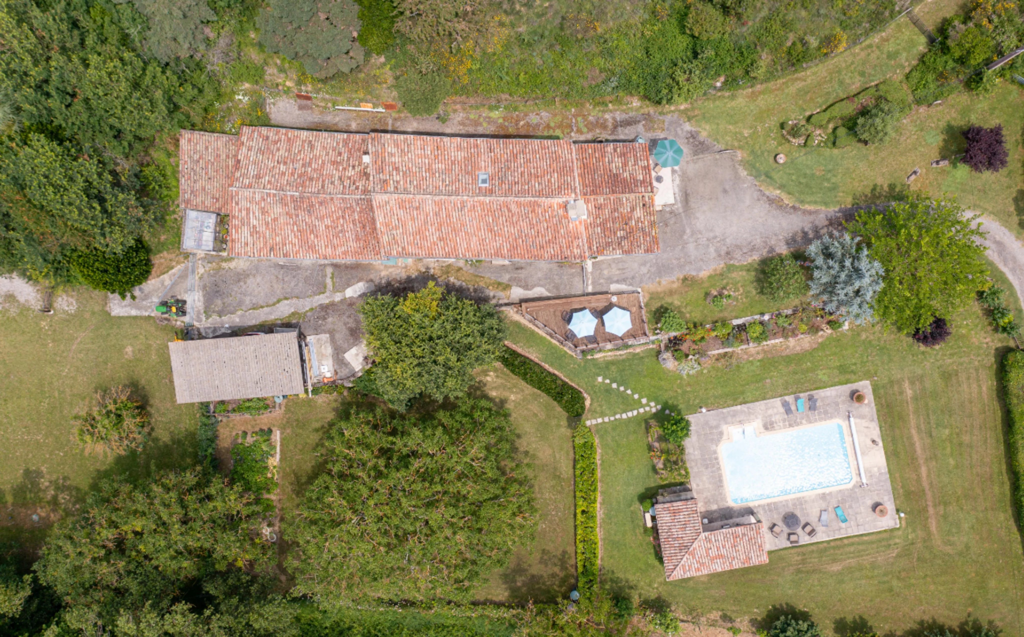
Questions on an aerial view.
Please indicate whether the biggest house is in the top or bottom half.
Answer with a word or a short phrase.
top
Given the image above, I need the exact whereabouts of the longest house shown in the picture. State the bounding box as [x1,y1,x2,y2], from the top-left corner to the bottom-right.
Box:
[179,124,661,266]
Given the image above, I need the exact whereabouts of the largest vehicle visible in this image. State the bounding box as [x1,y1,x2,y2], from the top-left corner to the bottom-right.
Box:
[154,299,187,319]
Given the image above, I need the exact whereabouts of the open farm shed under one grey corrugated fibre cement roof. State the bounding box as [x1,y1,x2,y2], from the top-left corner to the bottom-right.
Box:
[168,332,309,404]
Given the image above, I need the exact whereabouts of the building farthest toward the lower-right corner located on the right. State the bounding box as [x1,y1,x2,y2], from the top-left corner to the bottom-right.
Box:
[653,494,769,582]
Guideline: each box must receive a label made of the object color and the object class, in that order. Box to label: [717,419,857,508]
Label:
white swimming pool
